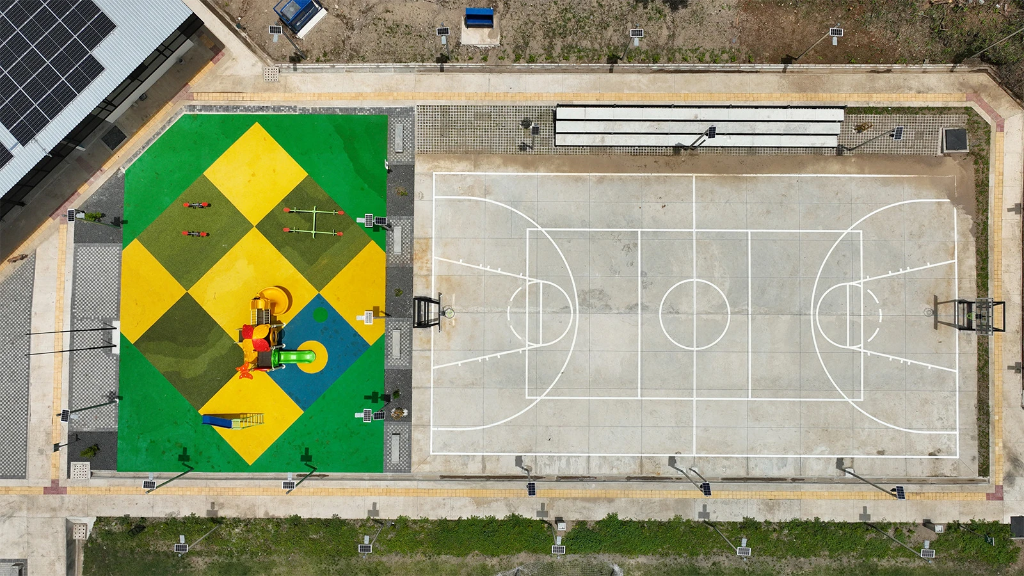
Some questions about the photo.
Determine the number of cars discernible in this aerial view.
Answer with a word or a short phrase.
0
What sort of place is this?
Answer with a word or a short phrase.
sports ground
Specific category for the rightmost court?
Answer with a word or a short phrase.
basketball court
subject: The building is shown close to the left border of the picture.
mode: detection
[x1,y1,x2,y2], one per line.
[0,0,205,232]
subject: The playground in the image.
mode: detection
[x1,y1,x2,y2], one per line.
[117,114,388,473]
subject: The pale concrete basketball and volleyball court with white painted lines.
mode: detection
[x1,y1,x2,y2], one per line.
[412,154,978,478]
